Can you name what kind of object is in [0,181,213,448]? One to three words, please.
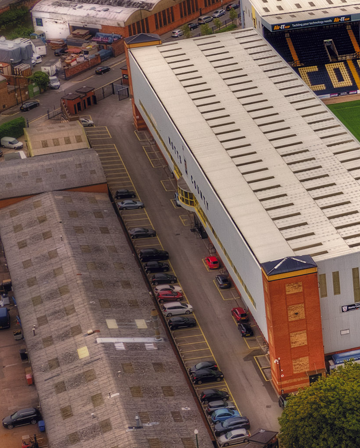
warehouse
